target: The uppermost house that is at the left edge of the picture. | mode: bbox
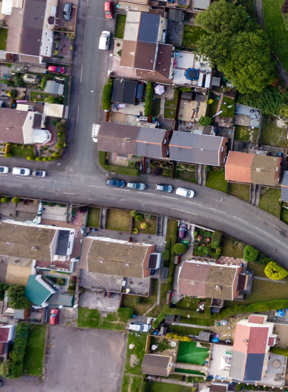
[9,0,62,31]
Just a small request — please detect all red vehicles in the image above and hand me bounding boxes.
[47,67,66,74]
[104,0,115,19]
[49,307,59,325]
